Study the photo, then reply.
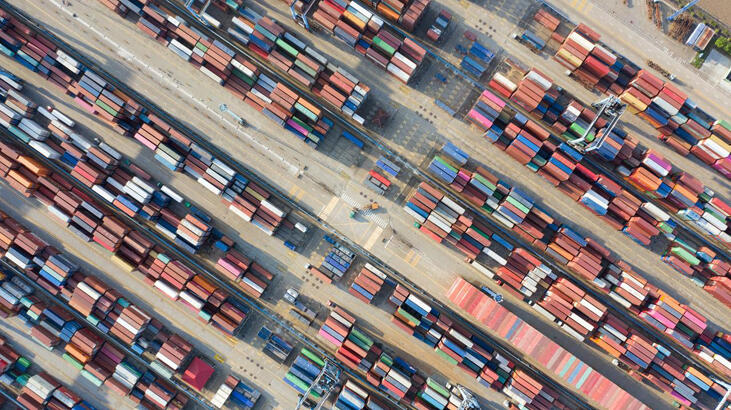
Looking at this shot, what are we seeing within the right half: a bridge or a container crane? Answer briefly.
container crane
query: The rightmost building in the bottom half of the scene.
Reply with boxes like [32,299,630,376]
[181,354,218,391]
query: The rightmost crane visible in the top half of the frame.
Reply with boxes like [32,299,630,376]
[561,94,629,156]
